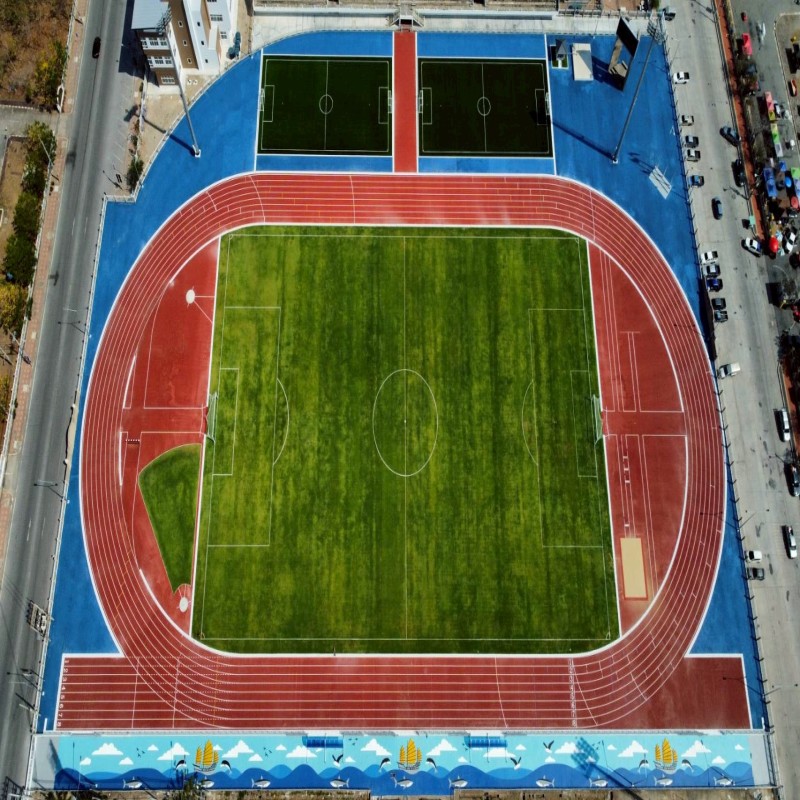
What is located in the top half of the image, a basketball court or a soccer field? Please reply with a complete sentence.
Visible in the top half of the image is a soccer field.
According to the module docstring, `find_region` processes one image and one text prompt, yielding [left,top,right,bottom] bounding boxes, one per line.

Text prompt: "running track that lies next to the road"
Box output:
[57,173,750,730]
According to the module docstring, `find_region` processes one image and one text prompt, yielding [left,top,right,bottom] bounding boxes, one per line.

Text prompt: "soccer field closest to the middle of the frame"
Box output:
[190,225,620,652]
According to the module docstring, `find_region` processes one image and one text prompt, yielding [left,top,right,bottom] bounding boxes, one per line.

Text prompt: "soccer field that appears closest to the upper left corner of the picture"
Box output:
[256,55,392,155]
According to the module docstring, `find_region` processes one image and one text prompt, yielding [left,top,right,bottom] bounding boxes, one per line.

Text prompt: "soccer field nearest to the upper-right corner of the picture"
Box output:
[418,57,553,157]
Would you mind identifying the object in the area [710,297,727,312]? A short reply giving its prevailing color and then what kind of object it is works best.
black car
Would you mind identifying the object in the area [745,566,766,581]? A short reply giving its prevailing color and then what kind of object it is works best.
gray car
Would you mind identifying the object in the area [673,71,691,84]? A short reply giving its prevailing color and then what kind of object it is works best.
white vehicle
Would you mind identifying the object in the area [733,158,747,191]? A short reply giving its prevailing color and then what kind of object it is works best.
black car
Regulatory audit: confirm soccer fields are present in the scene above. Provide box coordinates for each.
[190,225,620,652]
[418,57,553,157]
[256,55,392,155]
